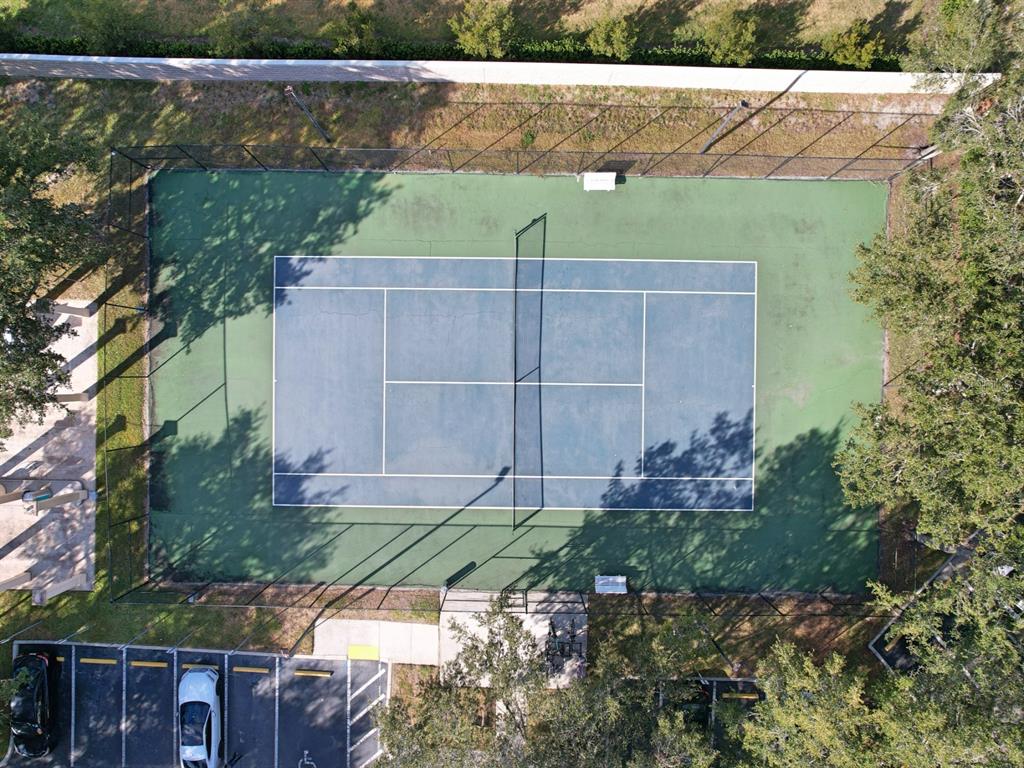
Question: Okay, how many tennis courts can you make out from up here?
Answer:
1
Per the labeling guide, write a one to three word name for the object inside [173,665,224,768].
car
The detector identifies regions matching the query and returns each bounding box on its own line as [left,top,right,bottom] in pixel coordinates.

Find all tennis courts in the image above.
[145,166,891,600]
